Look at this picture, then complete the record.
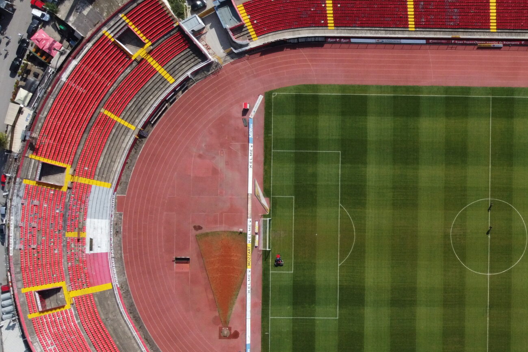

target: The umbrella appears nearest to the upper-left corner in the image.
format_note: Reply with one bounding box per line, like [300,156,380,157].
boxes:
[31,29,56,49]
